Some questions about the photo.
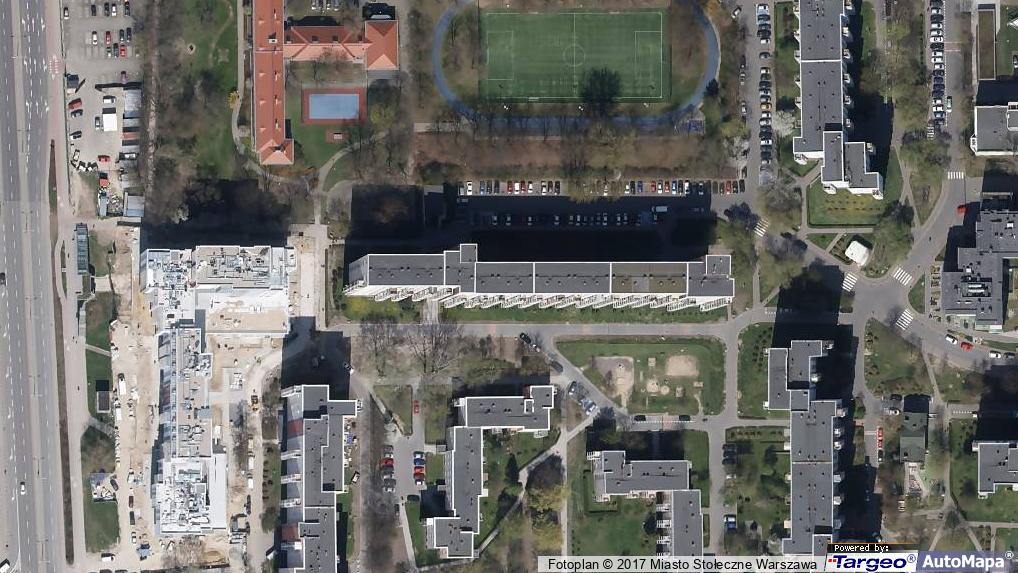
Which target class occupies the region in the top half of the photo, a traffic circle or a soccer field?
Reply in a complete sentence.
The one visible in the top half of the photo is a soccer field.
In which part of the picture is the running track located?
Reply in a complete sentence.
The running track sits in the top section of the image.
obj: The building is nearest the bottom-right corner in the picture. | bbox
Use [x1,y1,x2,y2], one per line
[957,444,1018,504]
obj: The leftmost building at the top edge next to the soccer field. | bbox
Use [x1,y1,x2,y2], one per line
[252,0,398,165]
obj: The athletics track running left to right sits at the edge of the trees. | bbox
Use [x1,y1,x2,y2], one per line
[432,0,718,126]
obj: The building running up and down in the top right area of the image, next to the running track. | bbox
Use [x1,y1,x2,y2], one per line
[778,0,879,202]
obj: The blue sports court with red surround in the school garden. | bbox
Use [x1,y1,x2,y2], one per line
[301,88,366,123]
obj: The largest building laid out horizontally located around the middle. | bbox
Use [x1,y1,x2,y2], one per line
[354,245,734,311]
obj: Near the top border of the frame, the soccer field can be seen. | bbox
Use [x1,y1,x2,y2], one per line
[479,8,672,102]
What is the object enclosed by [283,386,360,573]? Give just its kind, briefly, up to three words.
building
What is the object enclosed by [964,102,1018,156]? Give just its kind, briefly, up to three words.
building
